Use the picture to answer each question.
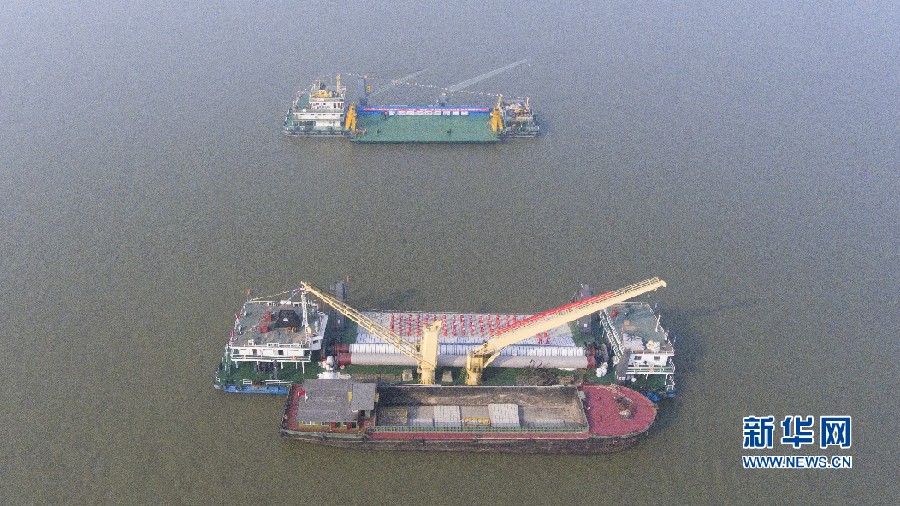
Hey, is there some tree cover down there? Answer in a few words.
No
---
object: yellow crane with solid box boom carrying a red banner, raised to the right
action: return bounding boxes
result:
[461,276,665,383]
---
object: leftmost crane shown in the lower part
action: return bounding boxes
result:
[302,279,445,383]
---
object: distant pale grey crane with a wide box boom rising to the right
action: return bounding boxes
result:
[437,58,532,107]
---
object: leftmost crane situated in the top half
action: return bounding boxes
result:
[359,66,432,106]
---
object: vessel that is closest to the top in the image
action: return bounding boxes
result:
[284,74,539,144]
